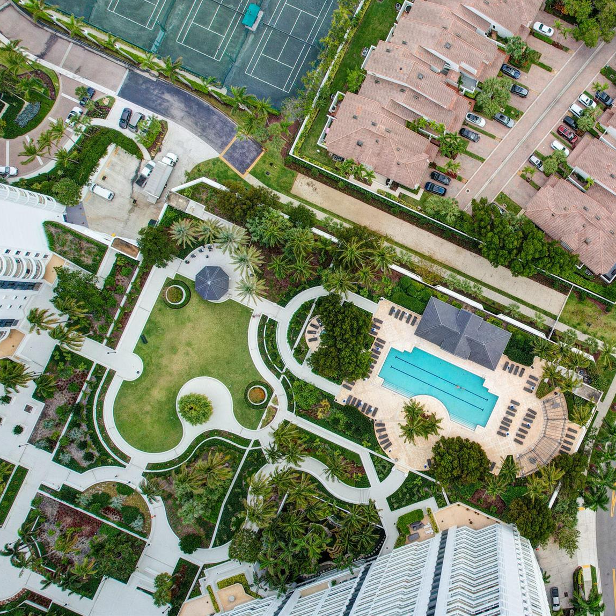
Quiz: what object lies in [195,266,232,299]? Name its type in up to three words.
gazebo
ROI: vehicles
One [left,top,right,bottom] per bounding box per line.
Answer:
[500,63,522,79]
[556,124,578,144]
[532,21,555,38]
[128,112,144,133]
[0,164,18,176]
[424,181,446,196]
[494,112,516,129]
[118,107,133,128]
[460,128,481,143]
[65,107,83,127]
[527,153,544,171]
[133,160,156,187]
[466,112,487,127]
[549,140,571,155]
[143,156,176,201]
[596,91,614,107]
[429,170,453,186]
[568,103,586,118]
[561,115,578,131]
[577,93,598,105]
[89,184,115,201]
[511,84,529,98]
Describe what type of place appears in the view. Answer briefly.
residential area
